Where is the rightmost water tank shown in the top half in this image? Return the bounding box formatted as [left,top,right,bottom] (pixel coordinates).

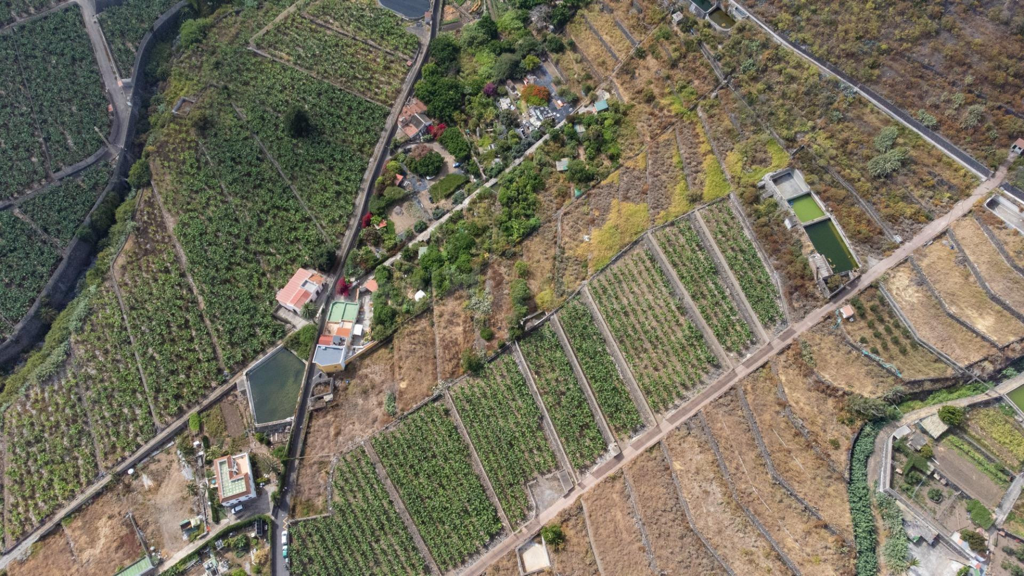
[981,195,1024,236]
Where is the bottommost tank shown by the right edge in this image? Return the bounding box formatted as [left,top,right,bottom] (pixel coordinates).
[1002,380,1024,420]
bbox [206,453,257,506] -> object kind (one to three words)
house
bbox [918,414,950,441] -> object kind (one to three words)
building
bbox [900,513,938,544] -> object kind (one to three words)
shed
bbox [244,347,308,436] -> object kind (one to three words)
water tank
